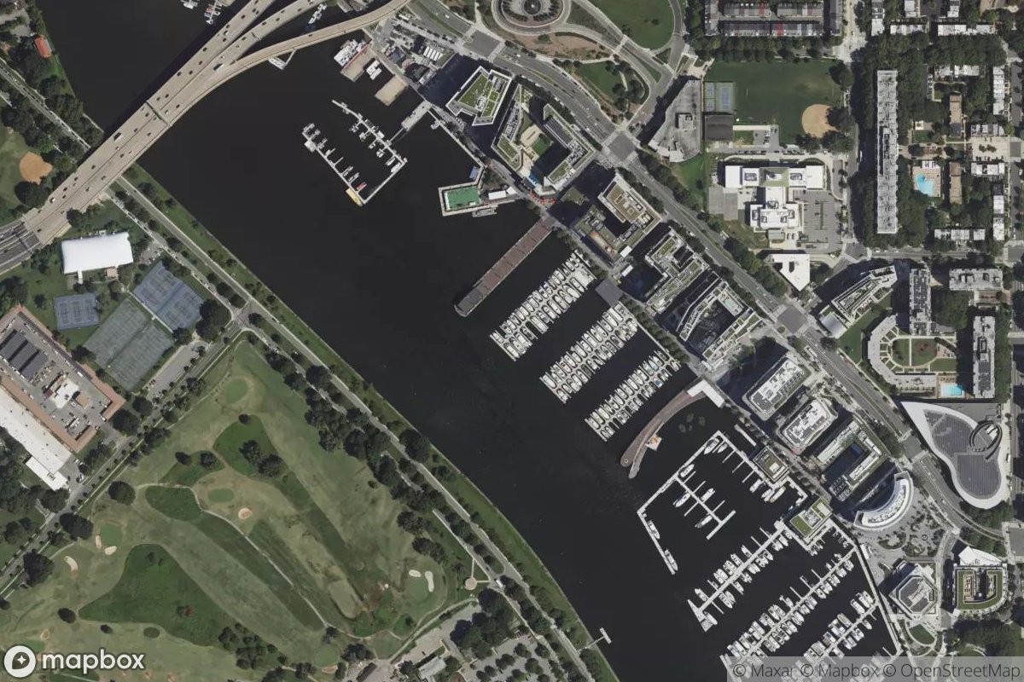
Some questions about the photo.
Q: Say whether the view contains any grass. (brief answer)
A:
Yes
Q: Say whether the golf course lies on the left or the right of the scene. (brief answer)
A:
left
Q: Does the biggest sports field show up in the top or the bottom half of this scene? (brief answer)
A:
top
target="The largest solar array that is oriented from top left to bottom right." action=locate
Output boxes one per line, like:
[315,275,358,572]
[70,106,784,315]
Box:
[547,118,572,144]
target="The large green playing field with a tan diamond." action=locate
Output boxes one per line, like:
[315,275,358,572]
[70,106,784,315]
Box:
[703,53,846,145]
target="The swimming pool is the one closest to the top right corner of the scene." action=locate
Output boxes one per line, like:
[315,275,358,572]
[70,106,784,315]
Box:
[912,167,940,197]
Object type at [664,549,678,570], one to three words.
boat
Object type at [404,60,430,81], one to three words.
building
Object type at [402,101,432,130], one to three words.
pier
